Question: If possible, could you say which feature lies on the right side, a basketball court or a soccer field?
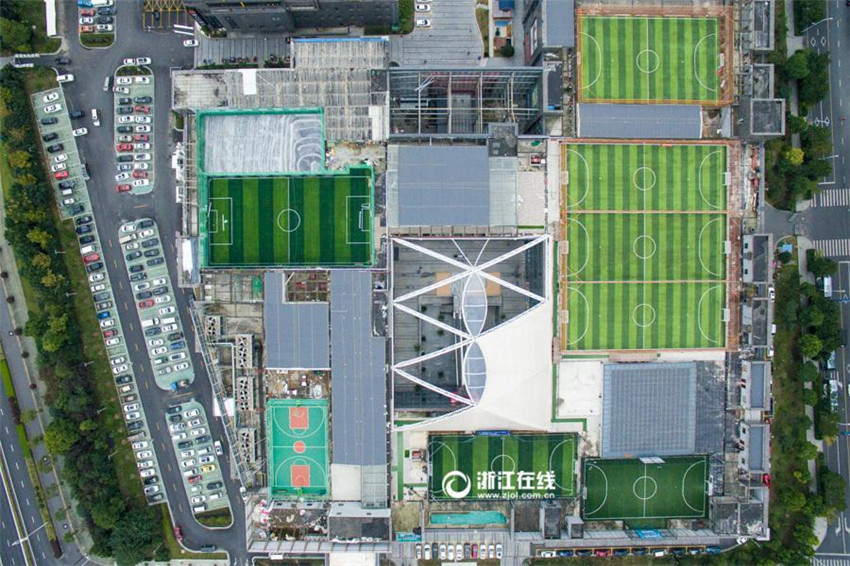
soccer field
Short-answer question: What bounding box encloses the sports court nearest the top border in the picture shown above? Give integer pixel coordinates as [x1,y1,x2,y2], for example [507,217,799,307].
[197,115,324,172]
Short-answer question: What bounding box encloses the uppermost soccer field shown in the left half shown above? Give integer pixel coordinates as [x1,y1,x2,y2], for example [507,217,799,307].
[203,165,369,266]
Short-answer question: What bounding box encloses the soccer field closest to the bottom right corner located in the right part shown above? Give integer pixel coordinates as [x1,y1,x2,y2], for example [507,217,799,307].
[582,457,710,520]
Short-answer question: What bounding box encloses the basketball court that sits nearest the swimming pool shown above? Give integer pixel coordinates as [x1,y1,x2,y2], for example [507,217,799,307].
[271,403,328,490]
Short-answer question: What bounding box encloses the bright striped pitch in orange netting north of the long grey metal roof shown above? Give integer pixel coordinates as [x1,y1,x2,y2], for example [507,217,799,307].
[580,17,719,101]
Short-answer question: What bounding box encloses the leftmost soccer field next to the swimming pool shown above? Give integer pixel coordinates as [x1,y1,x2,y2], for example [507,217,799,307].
[429,434,577,500]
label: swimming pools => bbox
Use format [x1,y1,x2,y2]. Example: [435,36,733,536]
[428,509,509,527]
